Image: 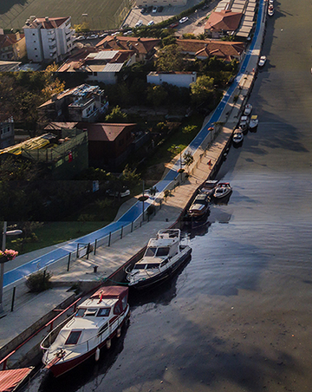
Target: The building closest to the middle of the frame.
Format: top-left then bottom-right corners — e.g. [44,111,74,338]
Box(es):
[77,123,136,165]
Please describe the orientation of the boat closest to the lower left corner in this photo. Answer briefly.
diagonally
